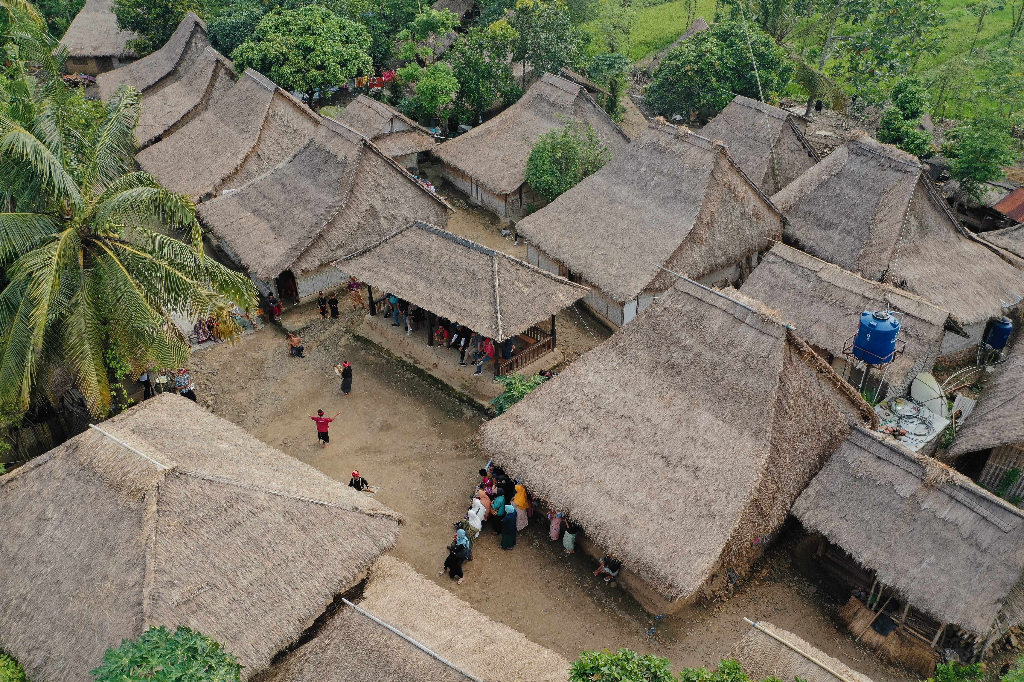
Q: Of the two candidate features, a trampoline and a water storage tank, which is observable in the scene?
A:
water storage tank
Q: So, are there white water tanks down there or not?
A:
No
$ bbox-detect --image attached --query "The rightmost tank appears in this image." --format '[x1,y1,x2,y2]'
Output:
[972,324,1016,389]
